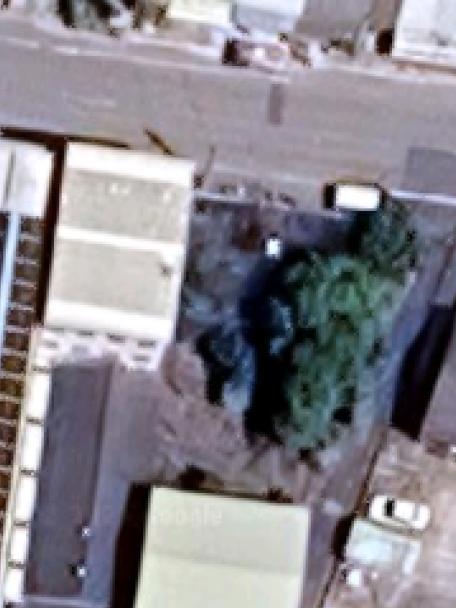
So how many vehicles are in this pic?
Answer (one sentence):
Altogether the scene contains 3 vehicles.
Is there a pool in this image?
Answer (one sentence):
No, the frame has no pool in it.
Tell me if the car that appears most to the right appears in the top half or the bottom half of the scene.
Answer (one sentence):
The car that appears most to the right is in the bottom half of the image.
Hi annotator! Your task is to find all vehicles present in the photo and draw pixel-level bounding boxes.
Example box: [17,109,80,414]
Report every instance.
[322,180,384,212]
[222,39,292,70]
[367,496,433,532]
